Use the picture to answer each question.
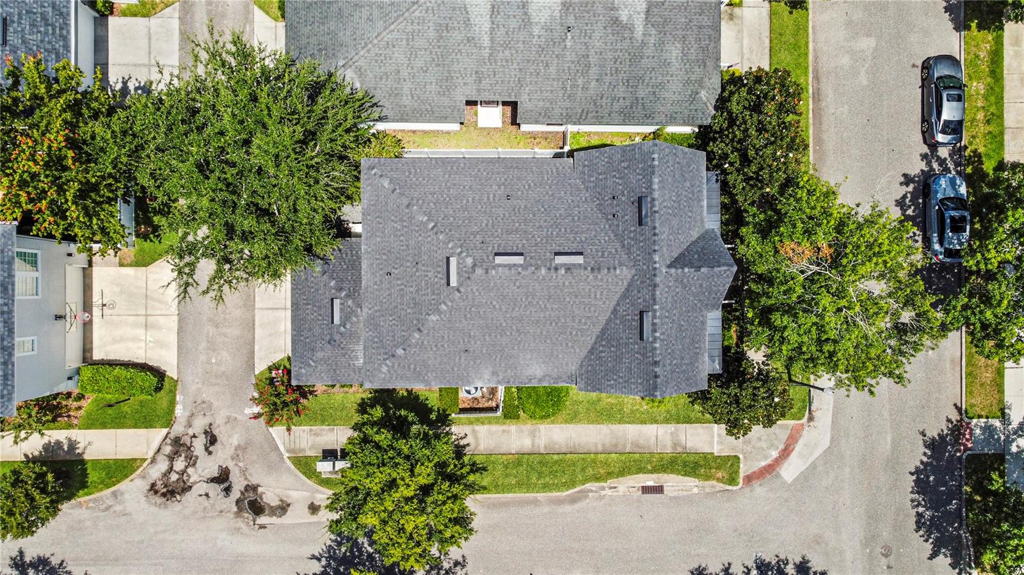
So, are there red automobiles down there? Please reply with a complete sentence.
No, I can't see a single red automobile in this photo.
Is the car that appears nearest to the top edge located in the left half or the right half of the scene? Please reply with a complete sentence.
The car that appears nearest to the top edge sits on the right side.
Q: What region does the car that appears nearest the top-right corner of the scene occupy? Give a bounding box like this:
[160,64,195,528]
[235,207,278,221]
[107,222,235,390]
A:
[921,56,971,147]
